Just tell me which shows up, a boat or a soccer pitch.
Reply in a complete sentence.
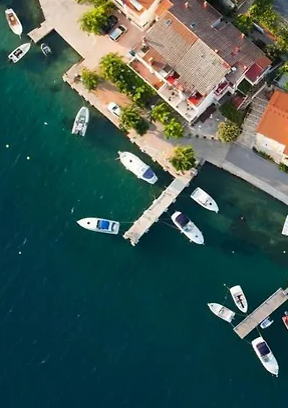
The one in the frame is a boat.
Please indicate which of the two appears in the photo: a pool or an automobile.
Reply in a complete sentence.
It is an automobile that can be seen here.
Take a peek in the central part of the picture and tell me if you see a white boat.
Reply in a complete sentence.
Yes, a white boat is visible in the central part of the picture.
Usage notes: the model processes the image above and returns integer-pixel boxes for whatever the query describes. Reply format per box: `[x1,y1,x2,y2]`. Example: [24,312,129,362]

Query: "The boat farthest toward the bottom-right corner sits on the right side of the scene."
[252,338,277,377]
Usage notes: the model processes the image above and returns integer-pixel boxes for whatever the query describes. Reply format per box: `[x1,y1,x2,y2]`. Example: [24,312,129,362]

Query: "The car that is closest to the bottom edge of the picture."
[107,101,123,119]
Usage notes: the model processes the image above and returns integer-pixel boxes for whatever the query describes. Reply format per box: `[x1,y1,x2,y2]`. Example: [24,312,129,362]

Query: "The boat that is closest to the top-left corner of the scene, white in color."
[4,8,23,36]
